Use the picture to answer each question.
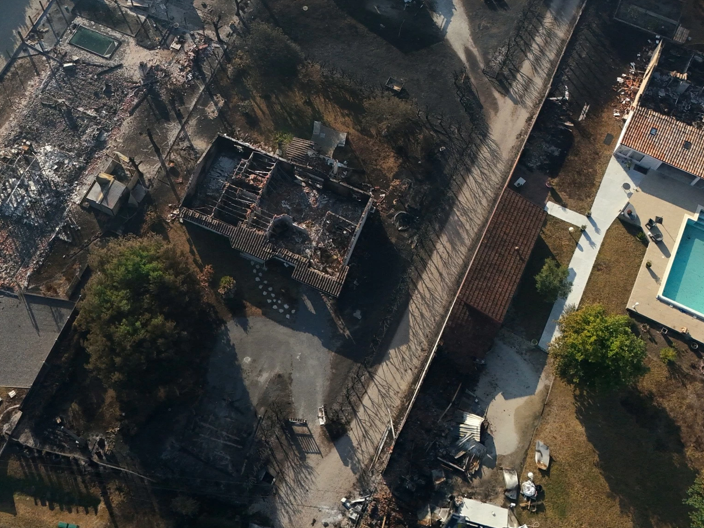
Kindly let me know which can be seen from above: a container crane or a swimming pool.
swimming pool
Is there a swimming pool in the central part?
No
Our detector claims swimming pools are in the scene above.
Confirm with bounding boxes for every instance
[657,205,704,315]
[65,20,126,64]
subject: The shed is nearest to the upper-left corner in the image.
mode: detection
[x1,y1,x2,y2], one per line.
[87,154,142,218]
